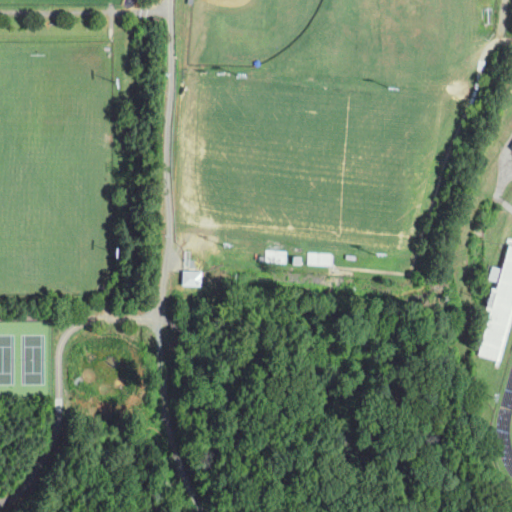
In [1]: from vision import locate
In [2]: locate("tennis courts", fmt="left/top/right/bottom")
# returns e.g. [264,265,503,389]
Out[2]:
[22,336,46,385]
[0,336,16,385]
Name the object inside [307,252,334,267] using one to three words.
shed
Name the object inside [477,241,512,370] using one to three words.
building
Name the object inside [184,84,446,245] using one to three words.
sports field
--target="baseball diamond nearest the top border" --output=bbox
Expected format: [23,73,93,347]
[190,0,318,64]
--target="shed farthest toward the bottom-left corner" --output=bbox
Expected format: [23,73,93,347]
[182,271,204,288]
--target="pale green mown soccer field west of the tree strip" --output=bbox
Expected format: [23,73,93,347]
[0,43,110,294]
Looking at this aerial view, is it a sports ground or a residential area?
sports ground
